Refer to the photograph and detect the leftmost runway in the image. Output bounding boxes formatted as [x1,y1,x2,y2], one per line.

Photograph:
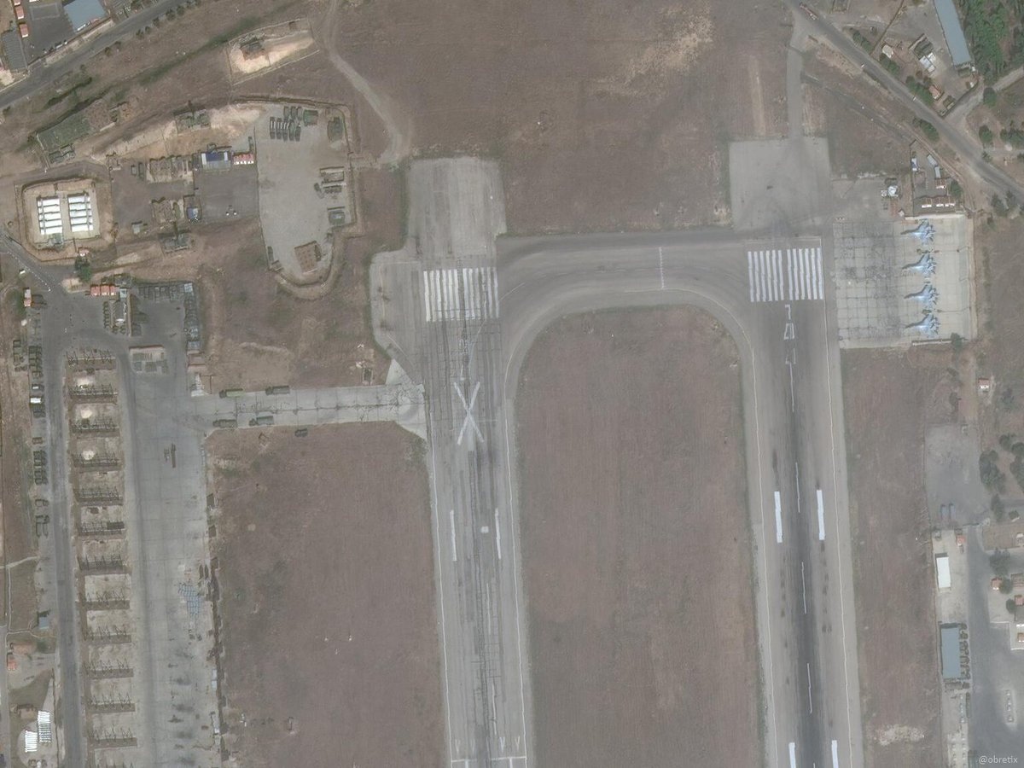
[410,253,534,768]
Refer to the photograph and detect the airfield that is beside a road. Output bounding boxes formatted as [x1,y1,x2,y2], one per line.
[116,138,972,768]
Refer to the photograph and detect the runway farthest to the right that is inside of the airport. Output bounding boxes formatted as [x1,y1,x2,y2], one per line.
[732,224,864,768]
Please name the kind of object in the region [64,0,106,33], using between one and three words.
building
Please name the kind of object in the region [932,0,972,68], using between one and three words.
building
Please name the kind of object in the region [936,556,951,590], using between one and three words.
shed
